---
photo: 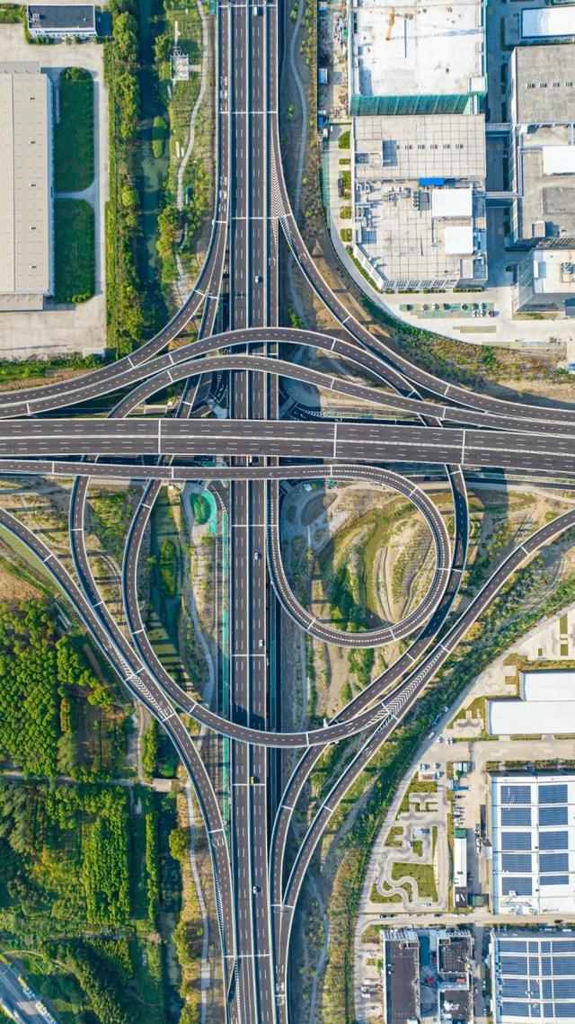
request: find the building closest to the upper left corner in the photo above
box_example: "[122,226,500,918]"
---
[27,4,98,38]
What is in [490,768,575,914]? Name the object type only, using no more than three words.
building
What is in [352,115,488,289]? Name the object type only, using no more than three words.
building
